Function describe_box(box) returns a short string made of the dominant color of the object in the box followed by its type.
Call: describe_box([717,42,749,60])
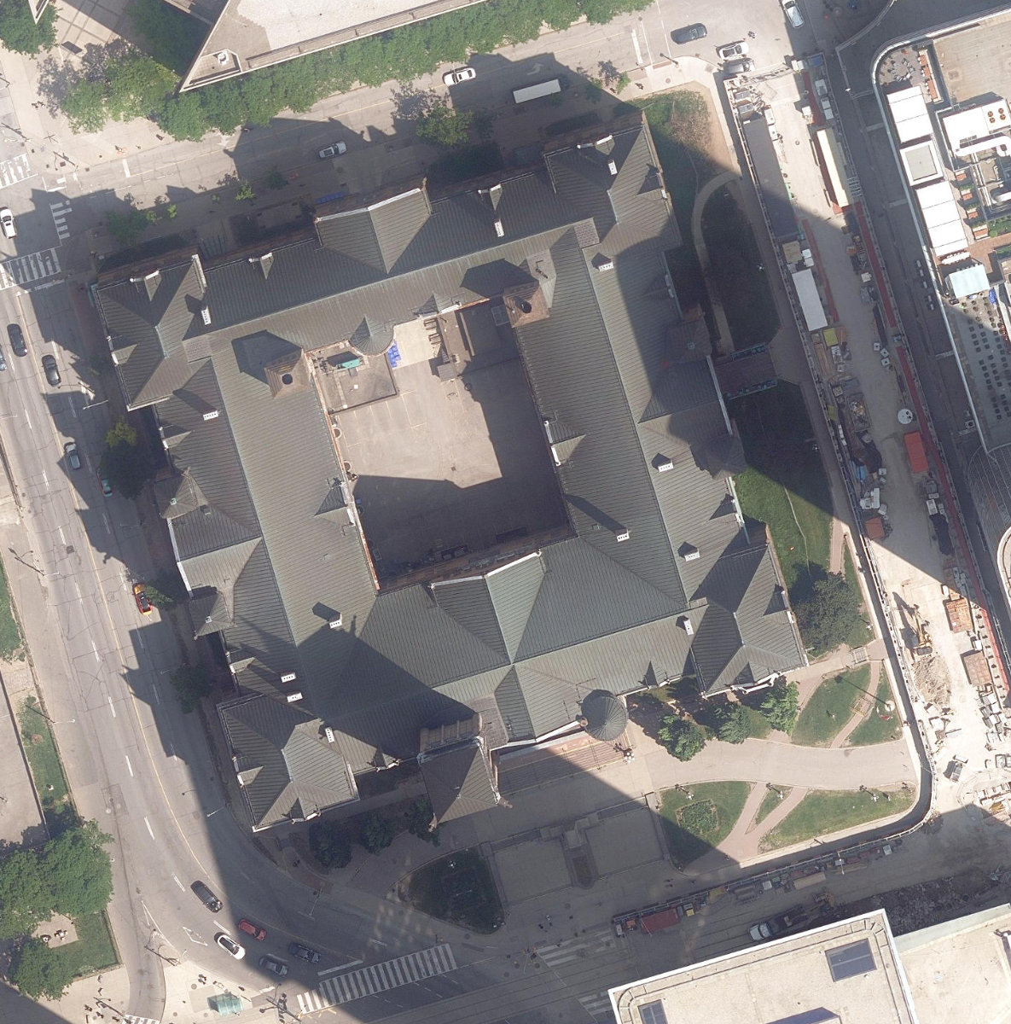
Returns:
white car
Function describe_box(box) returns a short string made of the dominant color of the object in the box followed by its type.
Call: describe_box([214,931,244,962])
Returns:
white car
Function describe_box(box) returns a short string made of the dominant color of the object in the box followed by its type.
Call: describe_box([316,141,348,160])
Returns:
gray vehicle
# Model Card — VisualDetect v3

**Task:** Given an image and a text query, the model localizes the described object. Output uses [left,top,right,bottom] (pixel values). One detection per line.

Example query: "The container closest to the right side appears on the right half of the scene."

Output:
[904,431,931,476]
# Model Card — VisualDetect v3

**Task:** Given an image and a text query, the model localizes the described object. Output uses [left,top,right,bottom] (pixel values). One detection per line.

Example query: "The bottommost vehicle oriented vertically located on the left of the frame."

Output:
[134,583,152,617]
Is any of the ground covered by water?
No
